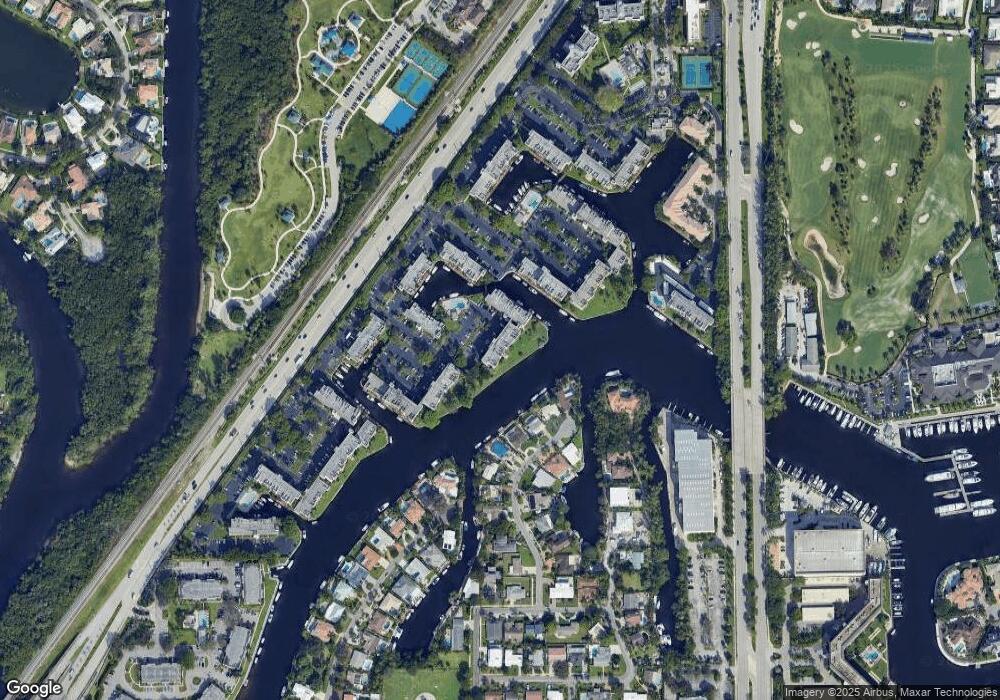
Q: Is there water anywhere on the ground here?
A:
Yes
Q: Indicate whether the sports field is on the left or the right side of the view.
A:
right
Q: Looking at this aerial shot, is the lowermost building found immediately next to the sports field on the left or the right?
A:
right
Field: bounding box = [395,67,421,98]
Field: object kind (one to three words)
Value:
tennis court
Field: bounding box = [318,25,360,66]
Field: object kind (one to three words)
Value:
playground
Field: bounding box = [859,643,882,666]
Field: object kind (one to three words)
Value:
swimming pool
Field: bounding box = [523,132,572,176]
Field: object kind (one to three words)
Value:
building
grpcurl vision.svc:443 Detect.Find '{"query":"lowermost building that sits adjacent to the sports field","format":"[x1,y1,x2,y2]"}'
[913,332,1000,405]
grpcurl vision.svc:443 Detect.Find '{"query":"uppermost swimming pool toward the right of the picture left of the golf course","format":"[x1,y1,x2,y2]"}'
[599,60,628,87]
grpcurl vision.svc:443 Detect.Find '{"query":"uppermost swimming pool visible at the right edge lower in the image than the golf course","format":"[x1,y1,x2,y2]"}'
[941,574,958,593]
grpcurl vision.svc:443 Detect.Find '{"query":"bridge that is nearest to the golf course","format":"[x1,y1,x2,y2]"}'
[730,388,766,473]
